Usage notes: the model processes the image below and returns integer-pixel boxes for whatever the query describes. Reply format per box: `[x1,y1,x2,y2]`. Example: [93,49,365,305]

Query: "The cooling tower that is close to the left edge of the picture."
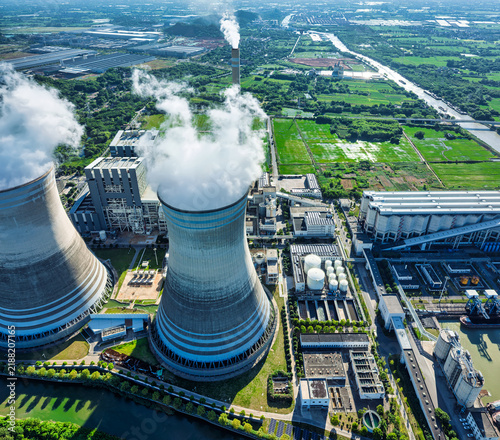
[0,154,117,348]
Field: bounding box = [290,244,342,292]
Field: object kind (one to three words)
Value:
building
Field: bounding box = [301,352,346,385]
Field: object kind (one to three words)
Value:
building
